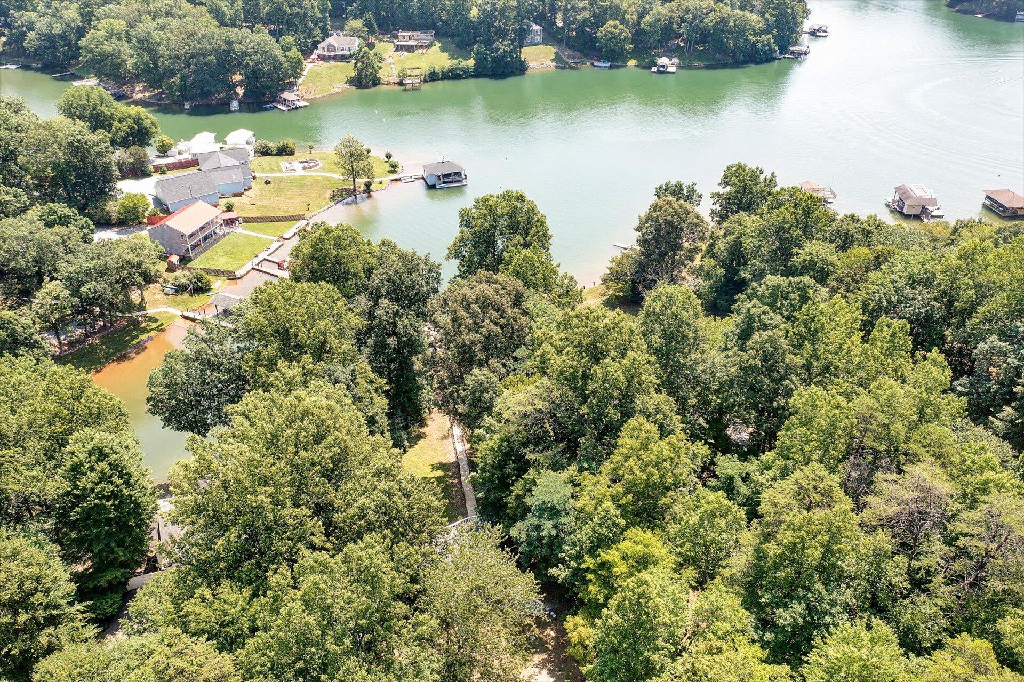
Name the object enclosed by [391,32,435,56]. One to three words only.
house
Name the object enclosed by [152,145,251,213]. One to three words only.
house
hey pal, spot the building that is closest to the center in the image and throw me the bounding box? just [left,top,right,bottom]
[426,154,469,188]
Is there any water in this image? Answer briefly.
Yes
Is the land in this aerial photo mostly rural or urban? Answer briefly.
rural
